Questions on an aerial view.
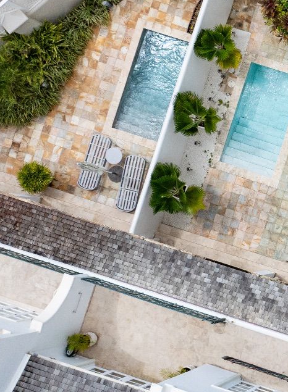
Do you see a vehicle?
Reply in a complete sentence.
No, the picture doesn't show any vehicle.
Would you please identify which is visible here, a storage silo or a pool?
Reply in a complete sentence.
The image shows a pool.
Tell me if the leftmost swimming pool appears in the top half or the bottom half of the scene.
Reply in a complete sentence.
The leftmost swimming pool is in the top half of the image.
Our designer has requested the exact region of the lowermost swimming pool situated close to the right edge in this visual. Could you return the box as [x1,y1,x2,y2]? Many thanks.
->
[206,49,288,192]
